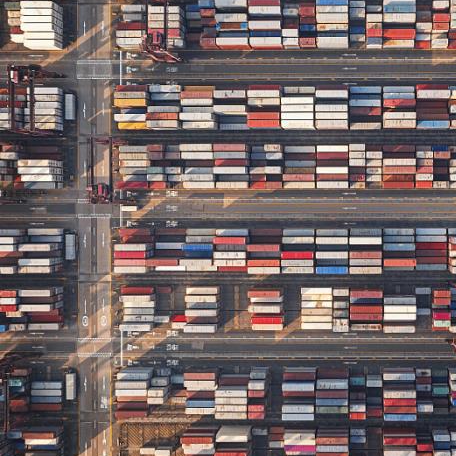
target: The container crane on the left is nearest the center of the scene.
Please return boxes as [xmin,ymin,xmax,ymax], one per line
[84,134,137,204]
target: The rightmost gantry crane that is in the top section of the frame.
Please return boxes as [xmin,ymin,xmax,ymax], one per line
[139,0,188,62]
